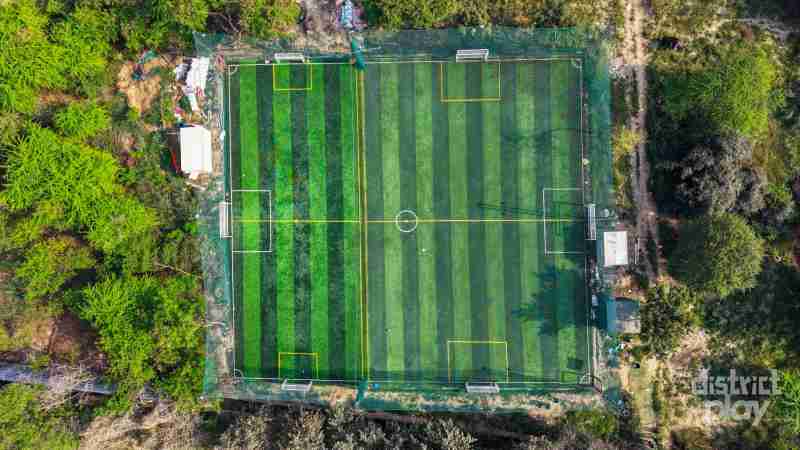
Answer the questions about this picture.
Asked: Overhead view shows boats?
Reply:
No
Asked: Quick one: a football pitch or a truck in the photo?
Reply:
football pitch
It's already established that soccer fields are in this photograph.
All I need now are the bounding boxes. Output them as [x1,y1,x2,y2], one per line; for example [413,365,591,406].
[366,55,592,389]
[226,58,372,385]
